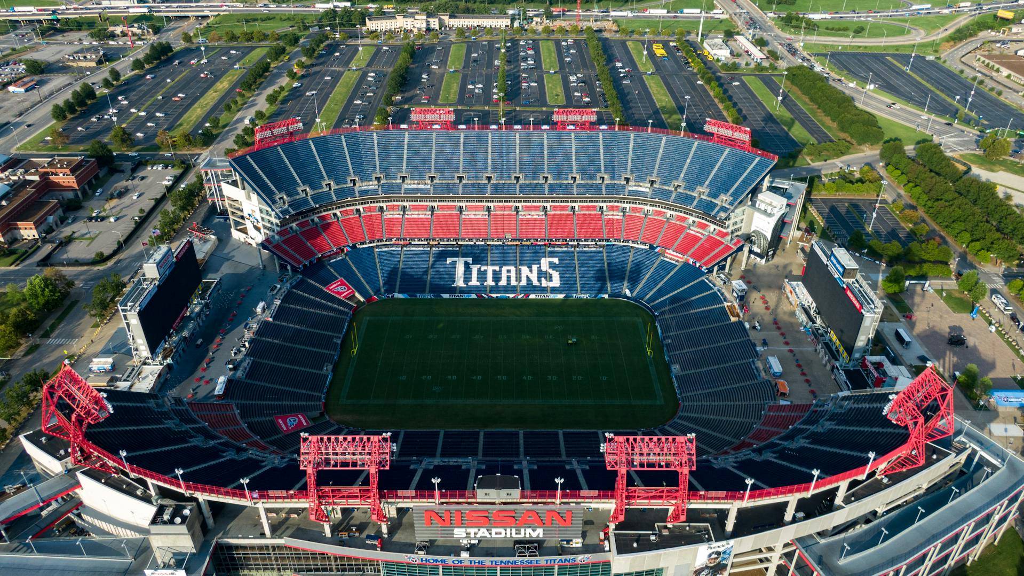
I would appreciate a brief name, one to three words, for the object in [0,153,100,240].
building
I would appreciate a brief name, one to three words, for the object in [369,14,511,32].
building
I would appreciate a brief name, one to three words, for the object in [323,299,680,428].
sports field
